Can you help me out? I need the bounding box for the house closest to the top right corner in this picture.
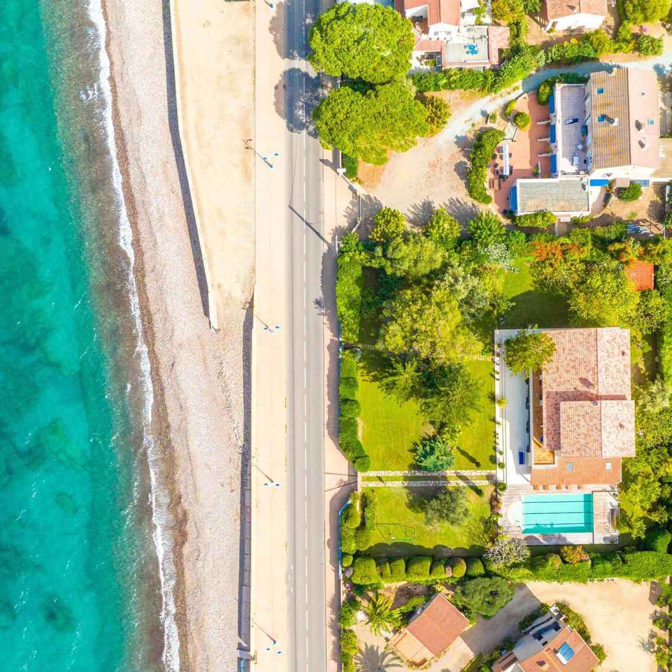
[542,0,607,35]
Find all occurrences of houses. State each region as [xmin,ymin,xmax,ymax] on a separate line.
[526,328,635,485]
[404,0,509,72]
[542,0,607,35]
[389,592,469,669]
[536,66,660,187]
[489,601,599,672]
